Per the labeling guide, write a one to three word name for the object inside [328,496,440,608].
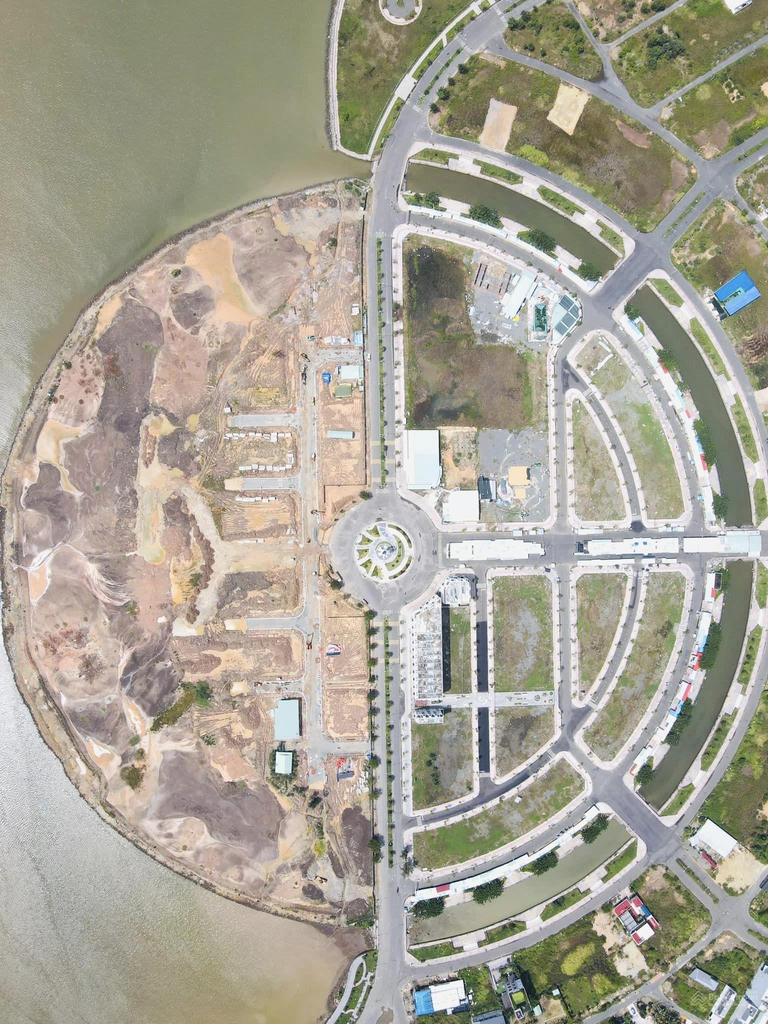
roundabout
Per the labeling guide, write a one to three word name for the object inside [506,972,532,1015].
house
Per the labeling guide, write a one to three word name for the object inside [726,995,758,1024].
house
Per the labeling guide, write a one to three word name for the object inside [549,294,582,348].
building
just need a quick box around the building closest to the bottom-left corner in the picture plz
[276,749,293,774]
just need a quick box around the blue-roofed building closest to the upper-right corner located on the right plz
[710,271,760,320]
